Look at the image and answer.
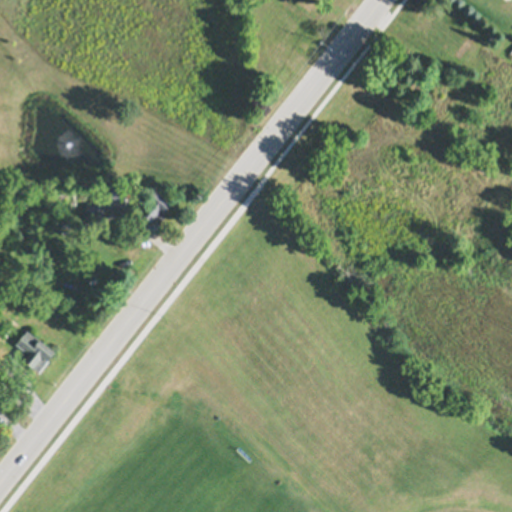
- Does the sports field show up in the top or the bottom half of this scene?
bottom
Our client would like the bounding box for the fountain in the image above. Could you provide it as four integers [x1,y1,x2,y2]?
[58,135,80,157]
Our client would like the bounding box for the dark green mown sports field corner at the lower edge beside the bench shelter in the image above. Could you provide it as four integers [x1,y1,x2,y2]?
[64,411,308,512]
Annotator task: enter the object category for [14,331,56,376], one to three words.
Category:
house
